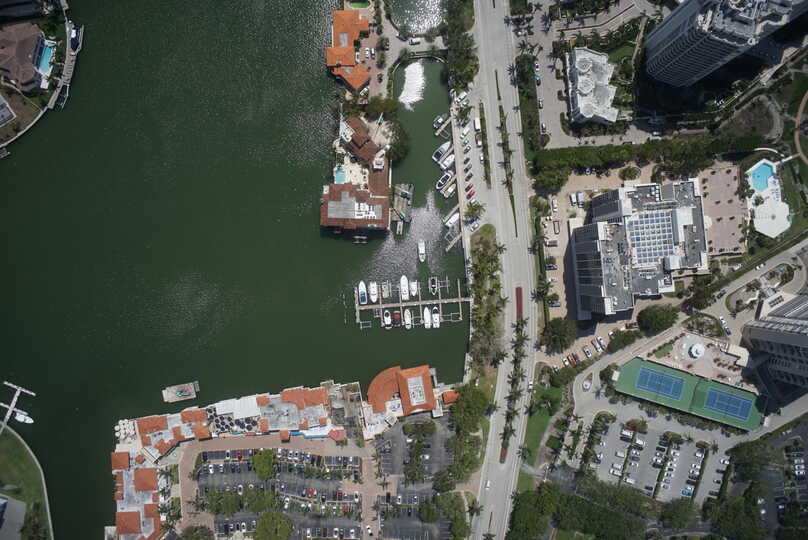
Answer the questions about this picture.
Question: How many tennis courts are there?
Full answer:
I count 2 tennis courts.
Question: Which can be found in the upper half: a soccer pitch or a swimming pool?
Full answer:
There is a swimming pool in the upper half.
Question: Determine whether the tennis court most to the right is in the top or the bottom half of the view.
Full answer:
Seen from above, the tennis court most to the right lies in the bottom half of the view.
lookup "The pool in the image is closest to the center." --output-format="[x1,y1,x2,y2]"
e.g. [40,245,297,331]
[334,166,346,184]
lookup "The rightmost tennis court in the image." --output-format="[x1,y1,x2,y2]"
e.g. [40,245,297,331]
[693,377,767,432]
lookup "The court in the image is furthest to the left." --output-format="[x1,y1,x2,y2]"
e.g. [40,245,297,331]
[615,357,701,413]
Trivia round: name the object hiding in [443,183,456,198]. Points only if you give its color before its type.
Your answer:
white boat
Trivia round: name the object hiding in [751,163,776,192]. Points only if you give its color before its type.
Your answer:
blue swimming pool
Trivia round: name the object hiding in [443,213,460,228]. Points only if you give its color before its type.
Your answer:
white boat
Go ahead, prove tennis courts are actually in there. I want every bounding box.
[693,377,767,432]
[615,357,701,413]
